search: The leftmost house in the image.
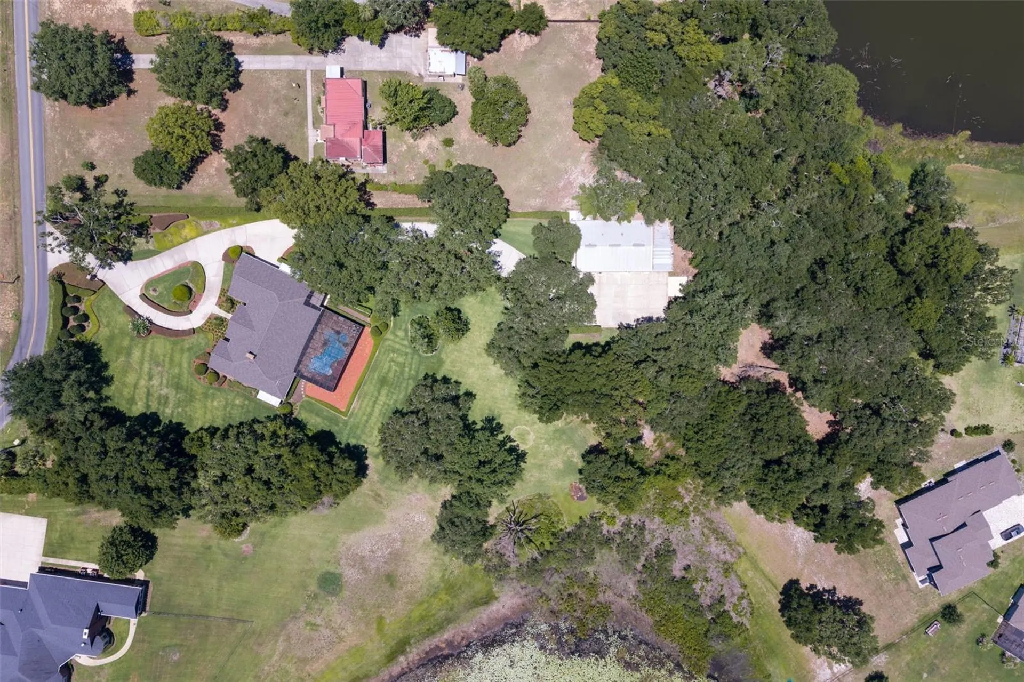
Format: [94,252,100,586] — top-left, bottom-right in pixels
[0,572,147,682]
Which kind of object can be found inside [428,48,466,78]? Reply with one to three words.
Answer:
shed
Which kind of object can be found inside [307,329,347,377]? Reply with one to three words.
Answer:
swimming pool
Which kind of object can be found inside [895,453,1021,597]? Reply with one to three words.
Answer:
house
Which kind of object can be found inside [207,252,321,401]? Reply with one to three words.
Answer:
house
